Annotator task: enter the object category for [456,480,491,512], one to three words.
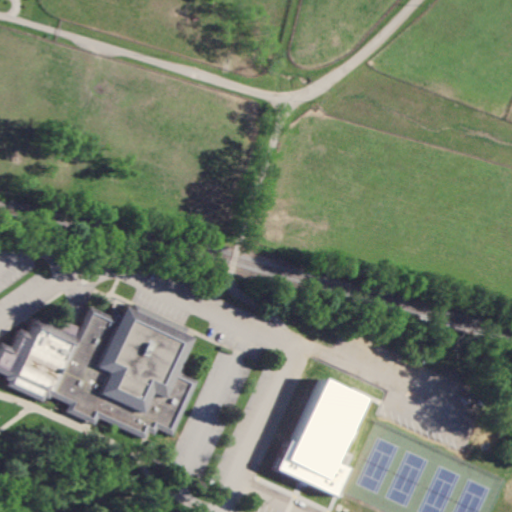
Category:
tennis court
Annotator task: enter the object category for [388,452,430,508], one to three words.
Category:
tennis court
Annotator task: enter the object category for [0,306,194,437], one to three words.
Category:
building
